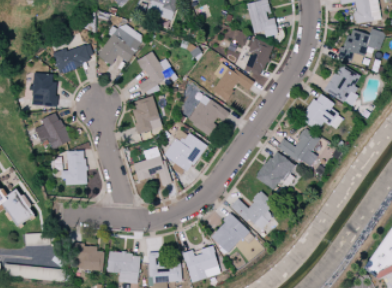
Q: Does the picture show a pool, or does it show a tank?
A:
pool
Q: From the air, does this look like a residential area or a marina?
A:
residential area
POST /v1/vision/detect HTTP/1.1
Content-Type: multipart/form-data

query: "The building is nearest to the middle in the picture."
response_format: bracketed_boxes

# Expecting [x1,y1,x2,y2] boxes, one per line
[169,130,206,169]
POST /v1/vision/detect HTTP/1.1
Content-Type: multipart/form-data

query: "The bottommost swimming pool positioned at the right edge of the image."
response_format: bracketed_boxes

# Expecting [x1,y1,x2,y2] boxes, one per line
[360,72,384,105]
